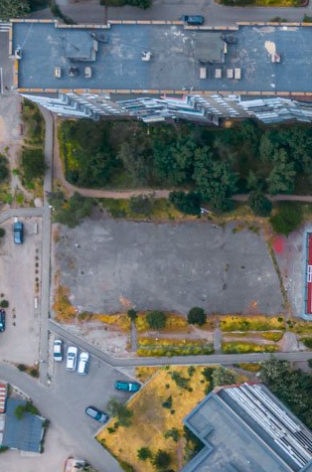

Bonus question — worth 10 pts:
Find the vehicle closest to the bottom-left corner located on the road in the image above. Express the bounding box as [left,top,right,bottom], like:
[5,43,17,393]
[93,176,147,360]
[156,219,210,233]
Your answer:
[86,407,107,422]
